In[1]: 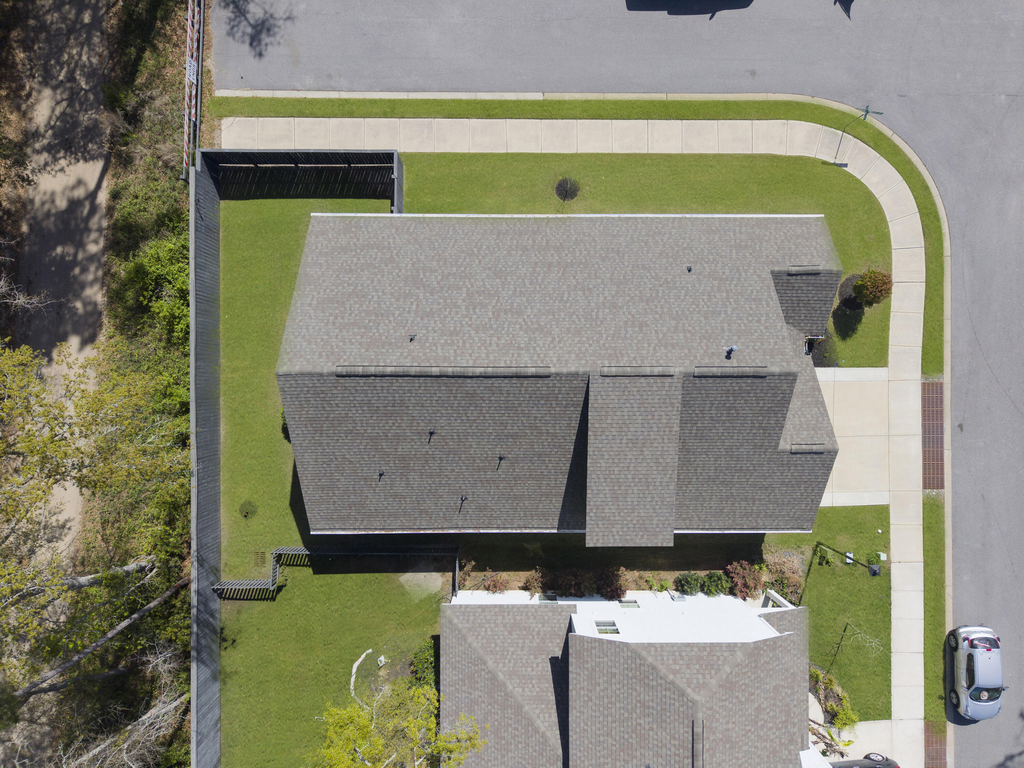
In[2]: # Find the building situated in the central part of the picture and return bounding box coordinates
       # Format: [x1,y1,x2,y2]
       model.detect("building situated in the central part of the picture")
[276,211,843,547]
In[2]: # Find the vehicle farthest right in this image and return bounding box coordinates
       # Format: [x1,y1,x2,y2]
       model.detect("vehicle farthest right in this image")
[948,624,1009,721]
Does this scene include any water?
No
